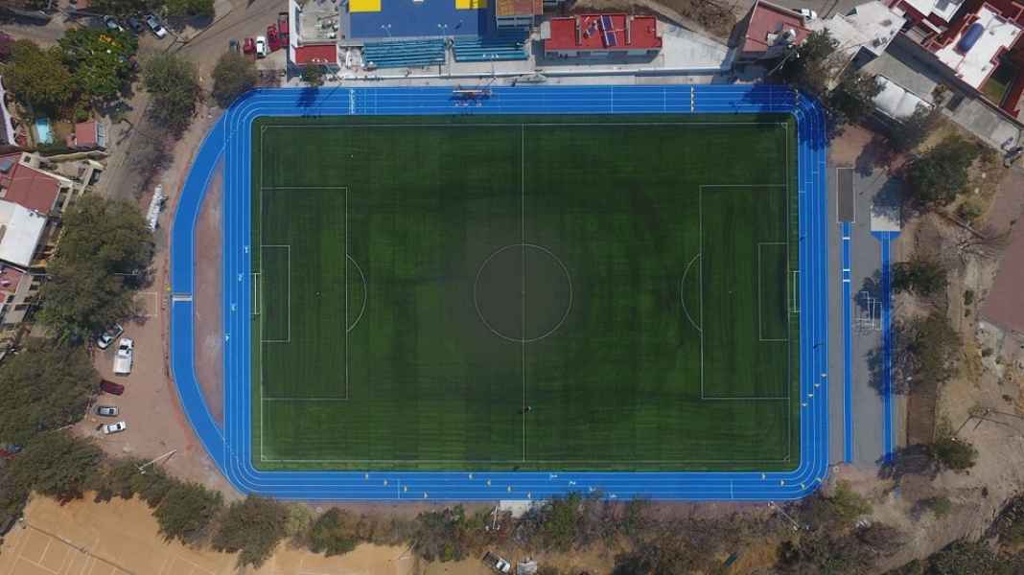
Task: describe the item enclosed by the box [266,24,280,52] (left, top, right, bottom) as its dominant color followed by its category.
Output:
red vehicle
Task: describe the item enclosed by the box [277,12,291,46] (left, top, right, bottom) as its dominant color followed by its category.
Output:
red vehicle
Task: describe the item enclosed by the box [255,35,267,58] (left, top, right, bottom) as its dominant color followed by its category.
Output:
white vehicle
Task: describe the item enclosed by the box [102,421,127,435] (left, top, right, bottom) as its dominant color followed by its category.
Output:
white car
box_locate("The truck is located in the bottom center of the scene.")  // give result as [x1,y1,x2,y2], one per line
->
[481,551,513,574]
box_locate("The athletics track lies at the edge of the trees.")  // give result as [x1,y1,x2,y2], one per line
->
[171,83,831,501]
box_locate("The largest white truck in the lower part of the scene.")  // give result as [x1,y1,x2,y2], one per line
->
[108,337,132,376]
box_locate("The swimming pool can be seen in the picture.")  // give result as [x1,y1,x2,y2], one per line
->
[34,115,53,145]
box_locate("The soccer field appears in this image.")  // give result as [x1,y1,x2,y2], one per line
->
[251,112,801,472]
